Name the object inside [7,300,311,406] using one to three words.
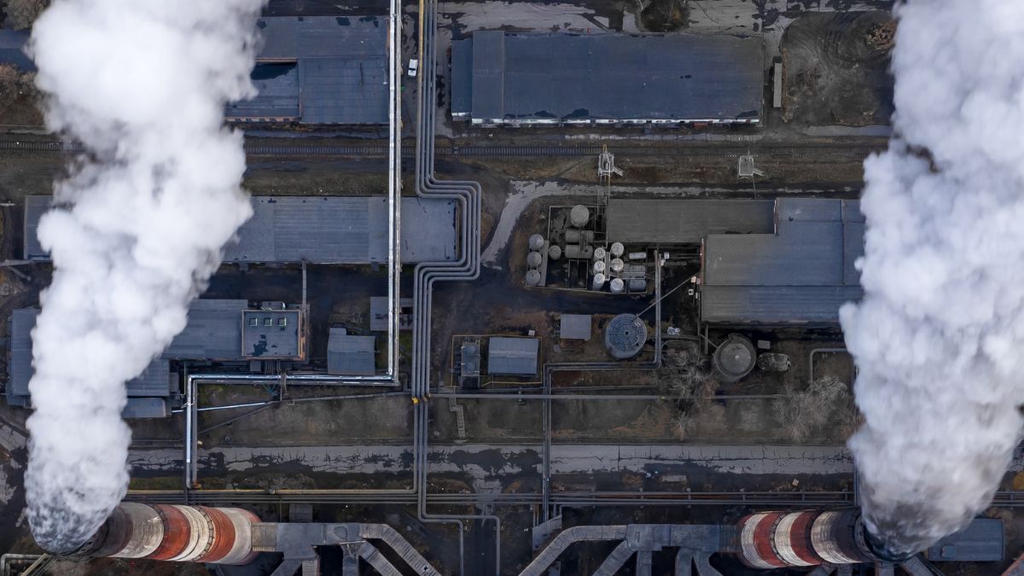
building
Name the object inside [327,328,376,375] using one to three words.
shed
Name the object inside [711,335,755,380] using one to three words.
storage tank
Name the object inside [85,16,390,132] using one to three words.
building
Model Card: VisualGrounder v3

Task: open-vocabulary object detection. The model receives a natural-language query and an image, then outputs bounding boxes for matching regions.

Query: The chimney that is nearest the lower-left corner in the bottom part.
[51,497,257,565]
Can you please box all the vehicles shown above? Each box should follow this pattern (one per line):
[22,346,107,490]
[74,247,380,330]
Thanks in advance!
[408,58,418,77]
[770,58,781,111]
